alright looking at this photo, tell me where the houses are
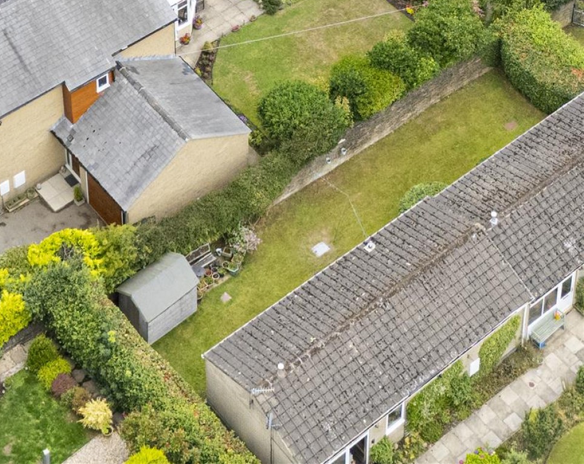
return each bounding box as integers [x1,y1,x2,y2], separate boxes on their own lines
[202,77,584,464]
[0,0,253,235]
